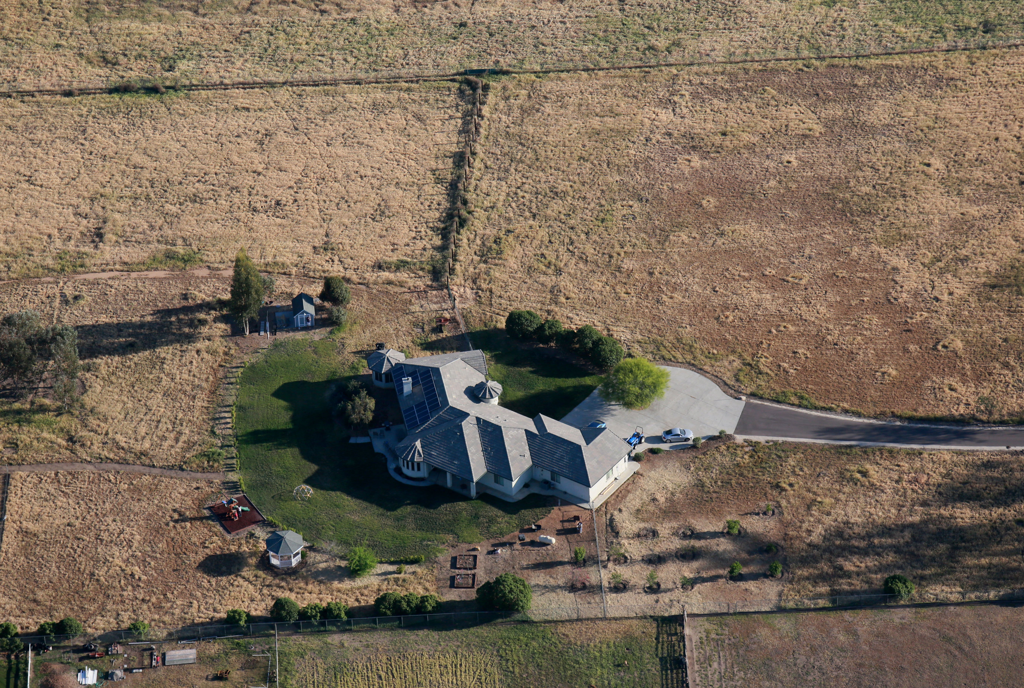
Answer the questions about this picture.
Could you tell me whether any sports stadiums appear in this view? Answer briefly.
No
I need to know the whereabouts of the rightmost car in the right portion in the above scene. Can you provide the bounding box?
[661,426,694,443]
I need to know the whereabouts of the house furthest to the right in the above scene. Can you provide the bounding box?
[367,348,632,501]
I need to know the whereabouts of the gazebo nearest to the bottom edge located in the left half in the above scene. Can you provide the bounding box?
[265,530,305,571]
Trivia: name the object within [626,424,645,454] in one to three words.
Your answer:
work vehicle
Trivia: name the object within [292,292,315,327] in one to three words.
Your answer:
shed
